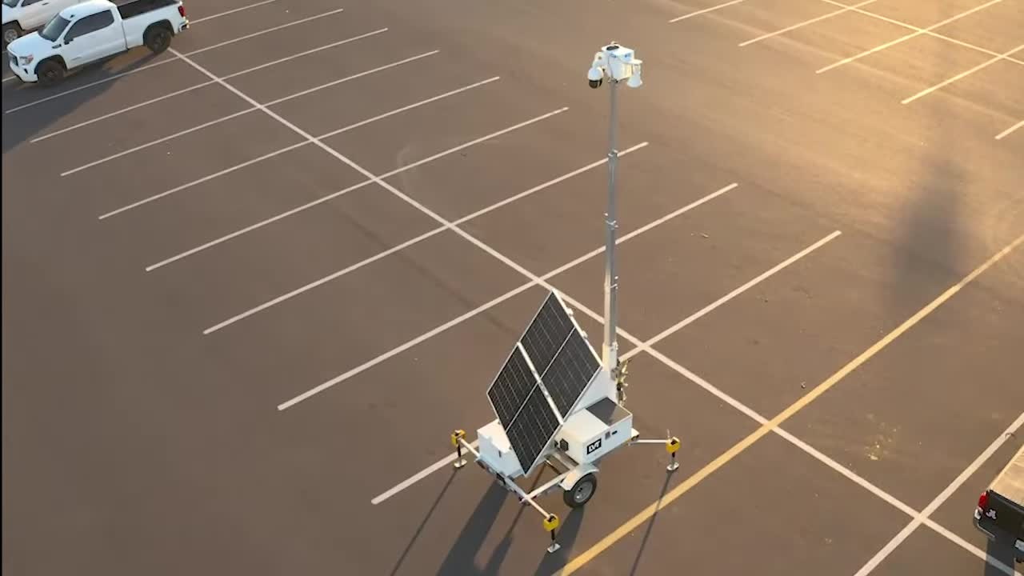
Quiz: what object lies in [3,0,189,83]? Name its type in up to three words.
truck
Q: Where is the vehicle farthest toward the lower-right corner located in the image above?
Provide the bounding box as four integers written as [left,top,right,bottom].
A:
[977,458,1024,567]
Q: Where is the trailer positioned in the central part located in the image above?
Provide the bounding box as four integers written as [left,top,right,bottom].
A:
[450,43,681,554]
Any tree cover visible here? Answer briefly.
No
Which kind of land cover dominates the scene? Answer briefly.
paved ground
